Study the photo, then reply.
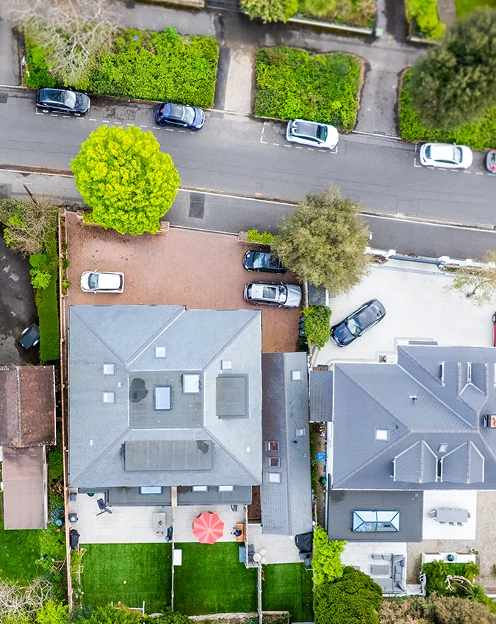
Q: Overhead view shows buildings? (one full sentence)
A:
Yes, the image includes a building.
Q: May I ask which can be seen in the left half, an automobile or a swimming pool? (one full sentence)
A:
You can see an automobile in the left half.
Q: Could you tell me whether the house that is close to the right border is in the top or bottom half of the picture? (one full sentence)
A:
Seen from above, the house that is close to the right border lies in the bottom half of the view.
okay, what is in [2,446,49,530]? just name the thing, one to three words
shed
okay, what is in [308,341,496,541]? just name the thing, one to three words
house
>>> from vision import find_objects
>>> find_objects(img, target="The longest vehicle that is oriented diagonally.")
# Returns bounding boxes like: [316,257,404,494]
[331,297,388,346]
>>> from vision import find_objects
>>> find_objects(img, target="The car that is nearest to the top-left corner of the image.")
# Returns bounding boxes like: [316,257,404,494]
[36,89,92,118]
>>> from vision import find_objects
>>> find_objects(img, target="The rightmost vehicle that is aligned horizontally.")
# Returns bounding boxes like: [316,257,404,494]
[417,143,472,171]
